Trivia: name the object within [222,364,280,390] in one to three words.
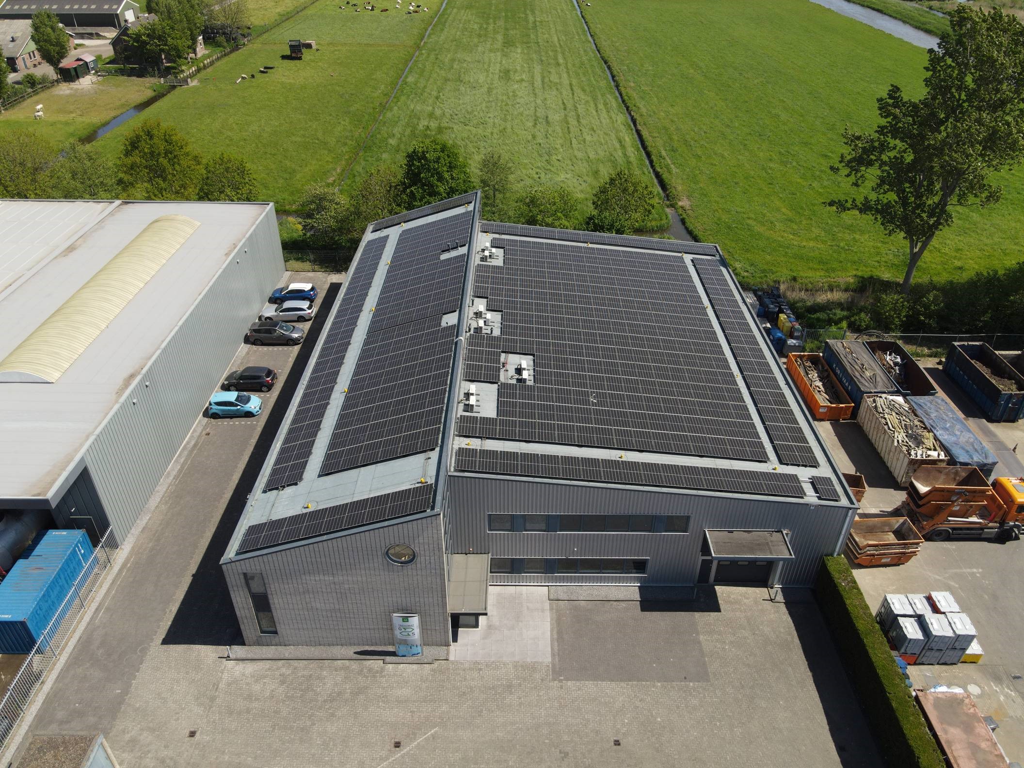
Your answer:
car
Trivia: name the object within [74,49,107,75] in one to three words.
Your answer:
shed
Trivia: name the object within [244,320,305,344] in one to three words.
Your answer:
car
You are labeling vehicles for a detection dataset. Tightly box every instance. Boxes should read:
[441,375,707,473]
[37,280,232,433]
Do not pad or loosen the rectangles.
[207,390,266,418]
[244,320,305,344]
[868,475,1024,538]
[270,279,319,301]
[260,298,317,320]
[222,364,280,390]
